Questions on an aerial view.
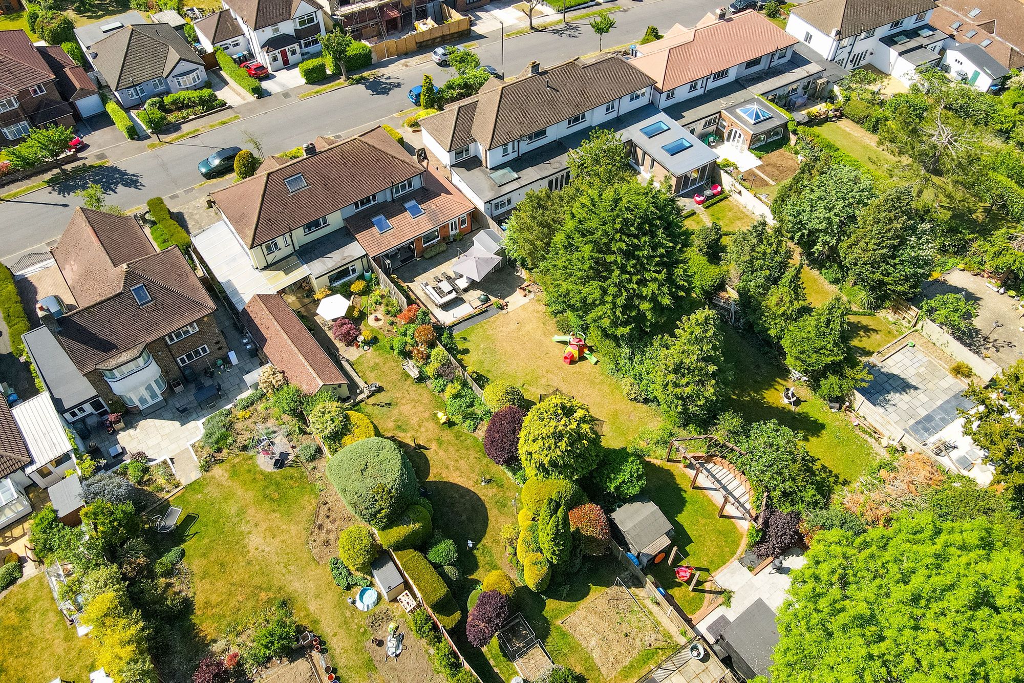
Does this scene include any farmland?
No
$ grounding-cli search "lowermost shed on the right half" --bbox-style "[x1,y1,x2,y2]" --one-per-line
[606,499,682,585]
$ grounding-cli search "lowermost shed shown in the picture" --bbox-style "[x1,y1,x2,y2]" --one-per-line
[366,550,408,608]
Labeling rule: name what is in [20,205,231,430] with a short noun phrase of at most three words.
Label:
house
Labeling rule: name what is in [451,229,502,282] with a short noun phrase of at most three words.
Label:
umbrella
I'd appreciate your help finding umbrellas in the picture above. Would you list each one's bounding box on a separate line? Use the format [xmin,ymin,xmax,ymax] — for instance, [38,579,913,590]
[315,296,353,323]
[451,229,502,282]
